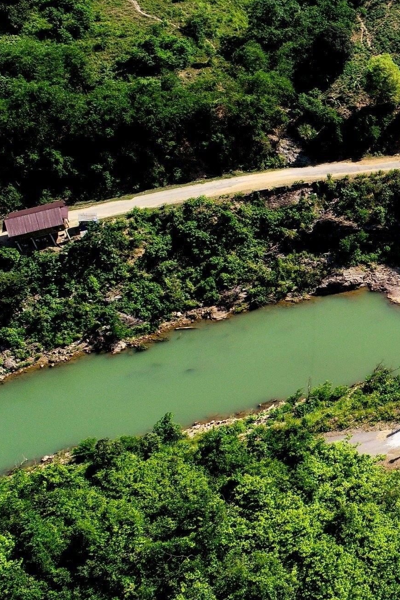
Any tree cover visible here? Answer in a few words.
Yes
